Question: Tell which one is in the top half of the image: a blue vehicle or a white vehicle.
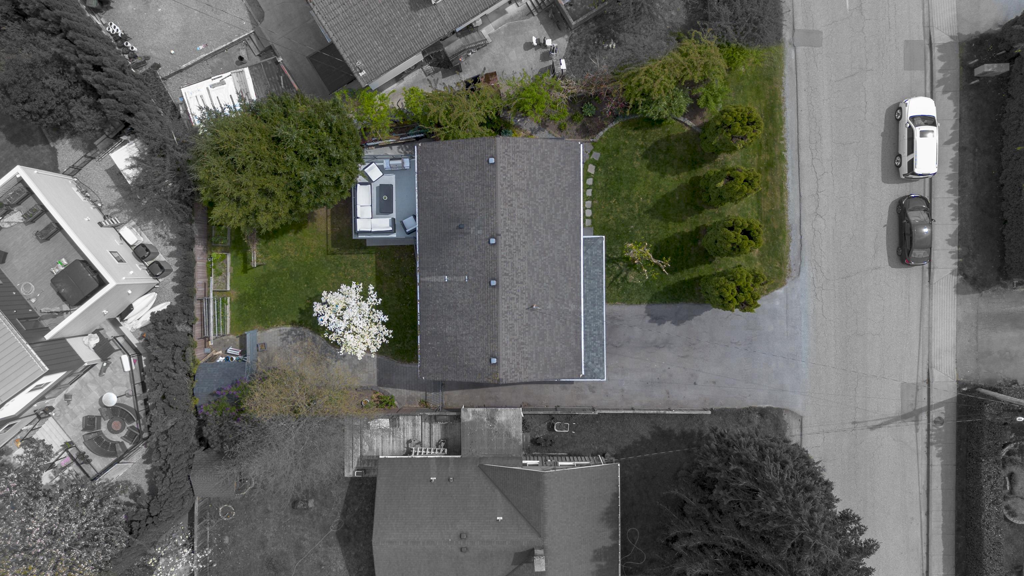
white vehicle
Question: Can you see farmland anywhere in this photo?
No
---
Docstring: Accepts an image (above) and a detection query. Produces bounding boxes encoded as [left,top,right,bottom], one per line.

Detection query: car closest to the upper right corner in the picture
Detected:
[893,99,939,182]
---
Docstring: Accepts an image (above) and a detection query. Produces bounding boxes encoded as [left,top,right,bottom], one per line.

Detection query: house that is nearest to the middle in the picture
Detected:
[416,136,607,383]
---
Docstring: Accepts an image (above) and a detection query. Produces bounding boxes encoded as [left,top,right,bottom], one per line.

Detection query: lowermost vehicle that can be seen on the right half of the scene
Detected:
[896,194,937,267]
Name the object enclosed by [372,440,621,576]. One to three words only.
house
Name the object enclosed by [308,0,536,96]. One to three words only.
house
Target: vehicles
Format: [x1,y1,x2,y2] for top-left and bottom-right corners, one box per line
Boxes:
[896,194,937,267]
[893,99,939,182]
